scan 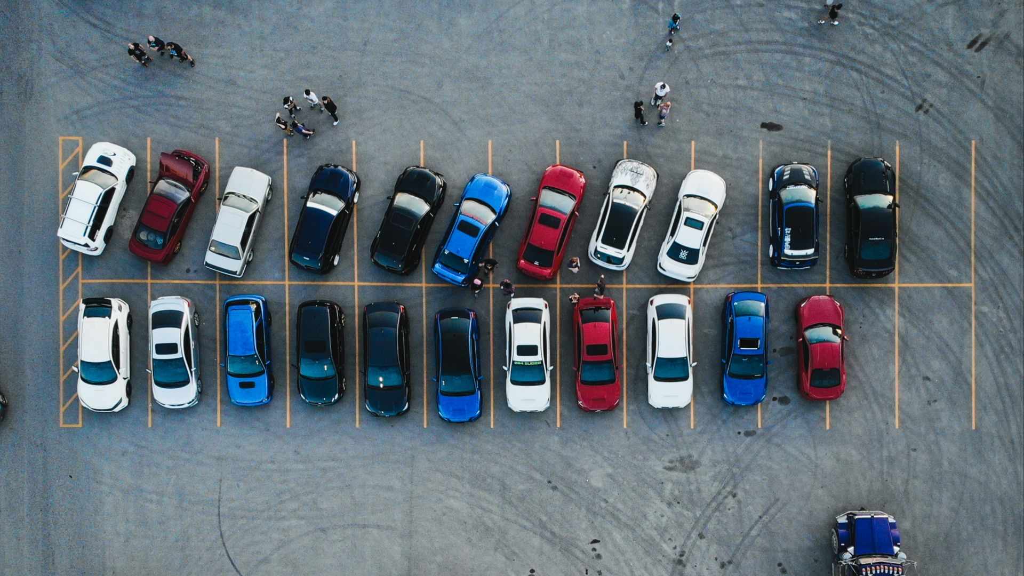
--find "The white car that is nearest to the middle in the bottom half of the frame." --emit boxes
[500,297,556,412]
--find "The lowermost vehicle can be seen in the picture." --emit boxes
[830,508,926,576]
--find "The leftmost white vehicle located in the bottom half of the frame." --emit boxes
[73,296,134,411]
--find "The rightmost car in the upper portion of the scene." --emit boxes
[844,157,905,278]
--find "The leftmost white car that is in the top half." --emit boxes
[52,140,136,253]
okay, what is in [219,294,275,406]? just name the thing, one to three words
car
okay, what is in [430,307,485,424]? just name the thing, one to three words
car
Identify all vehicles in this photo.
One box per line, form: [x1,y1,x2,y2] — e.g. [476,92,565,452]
[430,307,485,424]
[720,289,775,406]
[219,294,275,406]
[431,173,509,286]
[844,157,905,278]
[357,301,413,418]
[513,164,584,280]
[570,296,626,411]
[369,167,443,277]
[830,508,926,576]
[769,161,826,272]
[500,297,556,412]
[52,140,136,253]
[130,154,208,263]
[588,159,657,269]
[795,294,852,401]
[73,296,134,411]
[0,387,8,417]
[203,161,275,275]
[654,168,726,284]
[288,167,359,275]
[292,298,348,407]
[143,293,203,410]
[644,293,699,409]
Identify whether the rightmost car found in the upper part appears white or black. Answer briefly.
black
